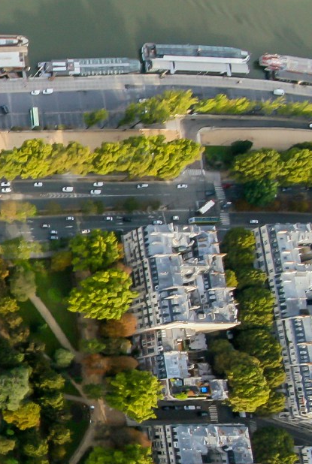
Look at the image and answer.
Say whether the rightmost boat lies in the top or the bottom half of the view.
top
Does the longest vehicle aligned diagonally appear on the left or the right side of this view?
right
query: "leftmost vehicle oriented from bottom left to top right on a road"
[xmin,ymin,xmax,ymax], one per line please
[198,195,222,214]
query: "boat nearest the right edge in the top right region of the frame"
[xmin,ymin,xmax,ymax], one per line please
[257,54,312,76]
